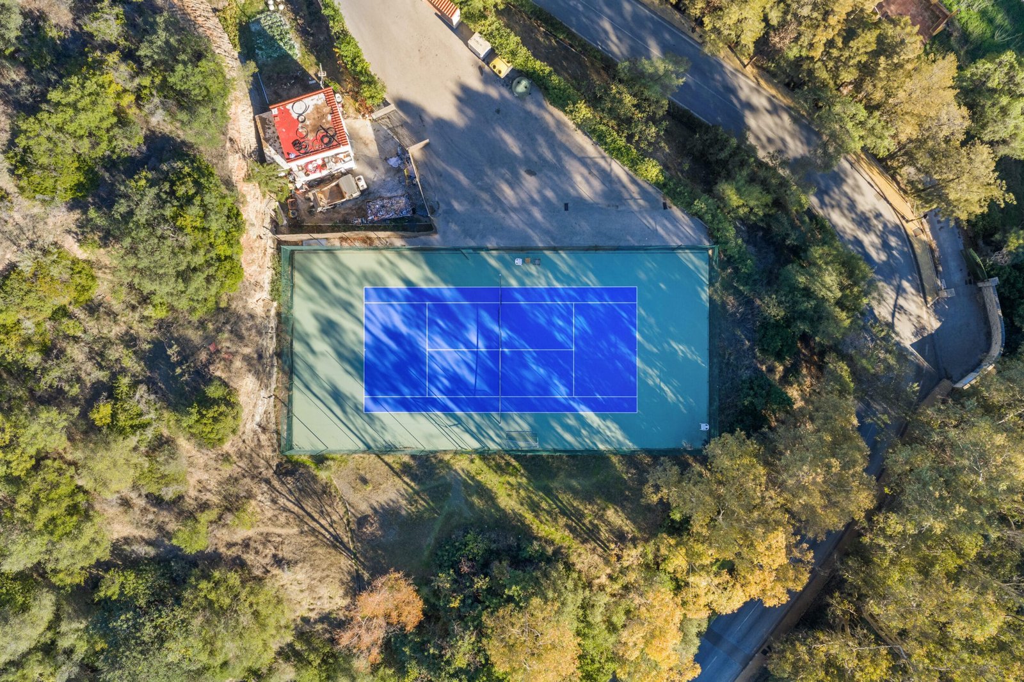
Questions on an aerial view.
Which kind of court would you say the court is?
tennis court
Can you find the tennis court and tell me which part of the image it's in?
center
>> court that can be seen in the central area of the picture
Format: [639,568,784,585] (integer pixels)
[291,249,710,451]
